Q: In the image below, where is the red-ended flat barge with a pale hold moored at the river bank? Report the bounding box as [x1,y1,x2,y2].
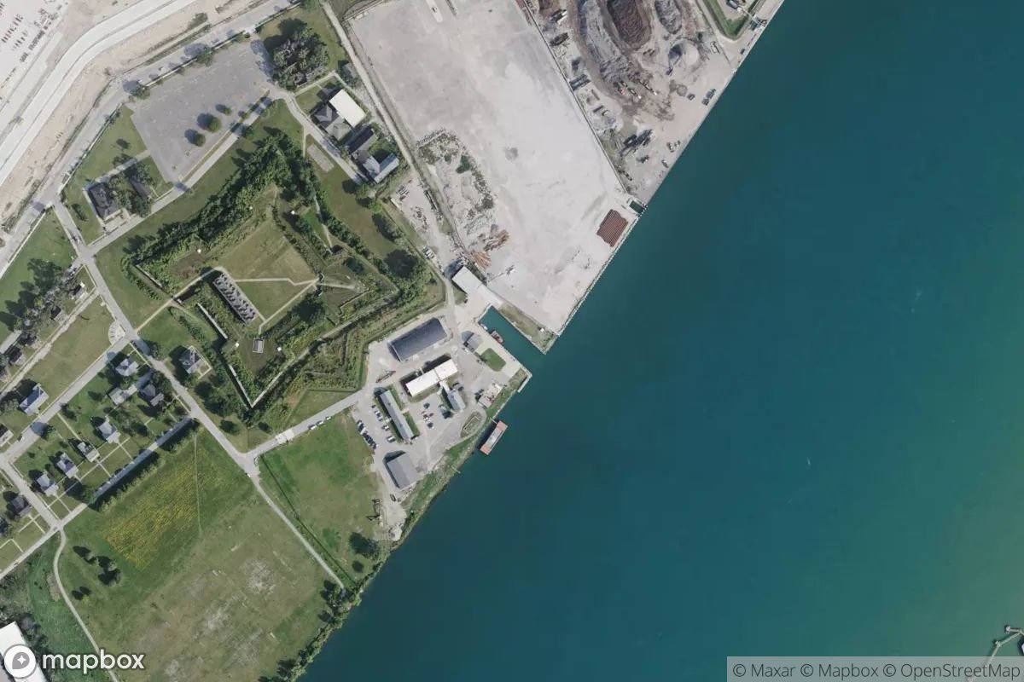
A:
[479,421,507,455]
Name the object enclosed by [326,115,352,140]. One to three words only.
house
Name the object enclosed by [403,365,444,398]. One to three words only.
building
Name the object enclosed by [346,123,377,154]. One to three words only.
house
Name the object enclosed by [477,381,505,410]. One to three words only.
building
